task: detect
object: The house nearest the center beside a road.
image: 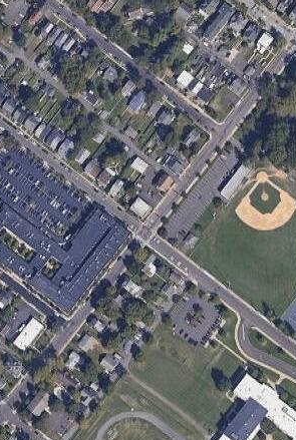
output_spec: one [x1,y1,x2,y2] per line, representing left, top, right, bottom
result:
[131,196,152,216]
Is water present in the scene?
No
